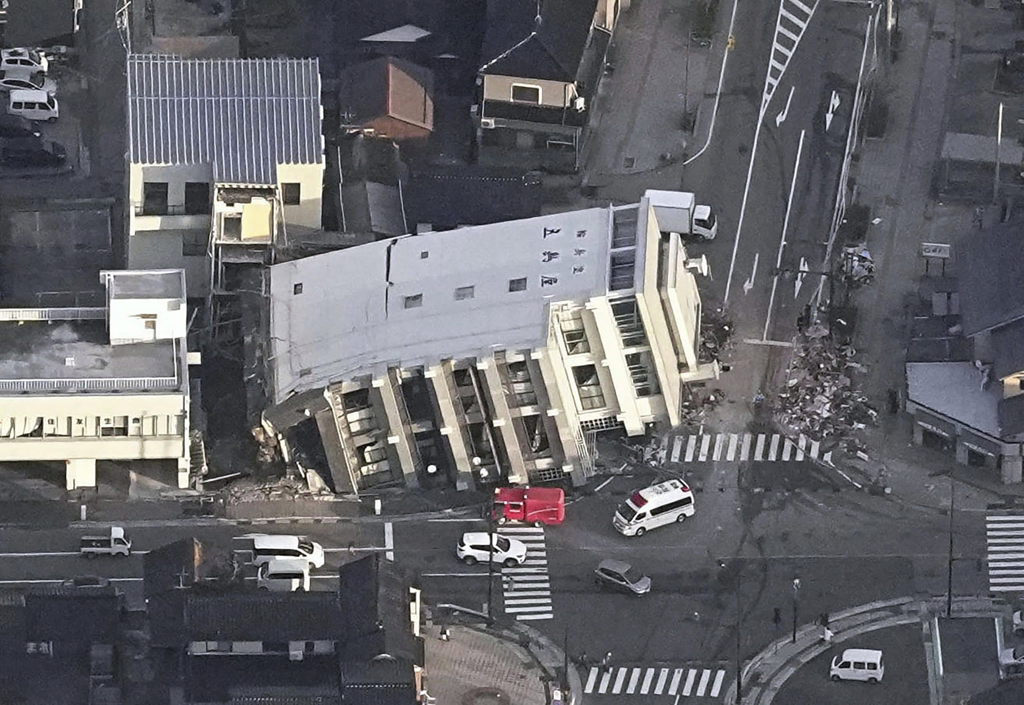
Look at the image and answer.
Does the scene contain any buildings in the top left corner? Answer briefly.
Yes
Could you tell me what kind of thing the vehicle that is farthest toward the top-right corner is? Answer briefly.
truck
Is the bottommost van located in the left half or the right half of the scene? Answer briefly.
right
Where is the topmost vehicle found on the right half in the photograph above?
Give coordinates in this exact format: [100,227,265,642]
[644,189,718,243]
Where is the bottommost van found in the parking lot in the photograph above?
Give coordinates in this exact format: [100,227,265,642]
[829,646,885,684]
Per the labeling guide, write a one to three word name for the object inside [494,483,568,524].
truck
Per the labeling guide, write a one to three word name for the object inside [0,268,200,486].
building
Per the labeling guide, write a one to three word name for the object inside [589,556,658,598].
car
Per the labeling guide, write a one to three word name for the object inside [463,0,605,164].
house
